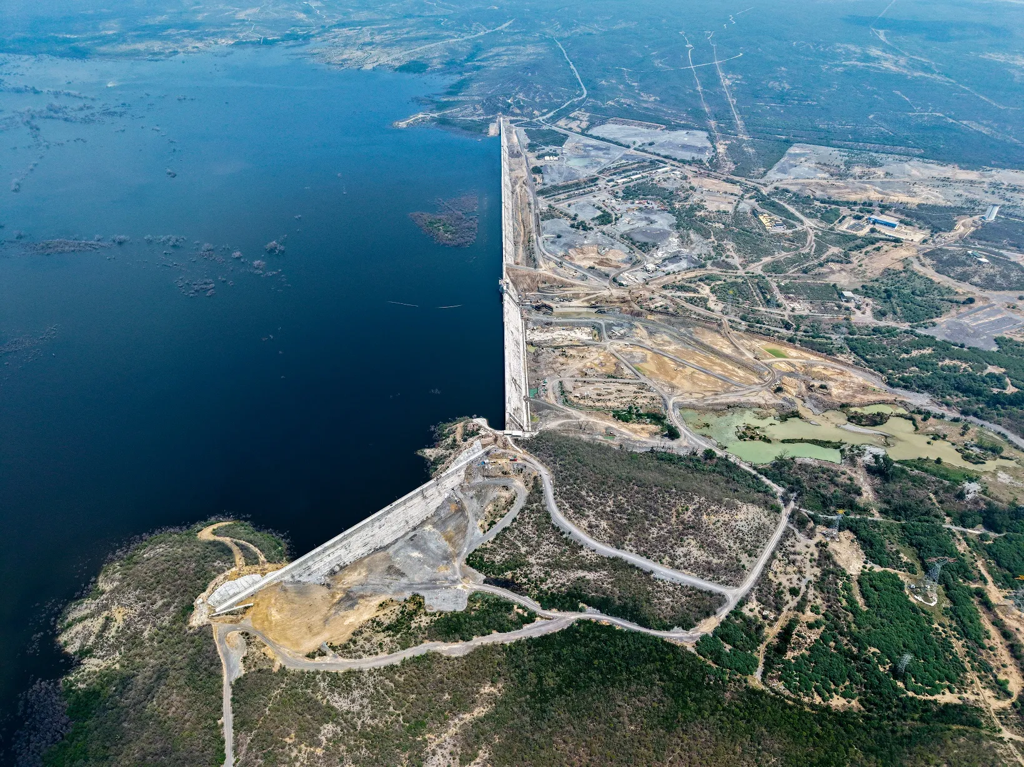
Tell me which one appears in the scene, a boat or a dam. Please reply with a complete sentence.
Visible in the photo is a dam.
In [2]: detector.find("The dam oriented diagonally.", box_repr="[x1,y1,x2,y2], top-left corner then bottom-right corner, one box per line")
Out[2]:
[218,443,495,615]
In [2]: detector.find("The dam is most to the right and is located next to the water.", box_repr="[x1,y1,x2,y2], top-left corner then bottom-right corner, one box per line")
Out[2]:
[501,120,539,432]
